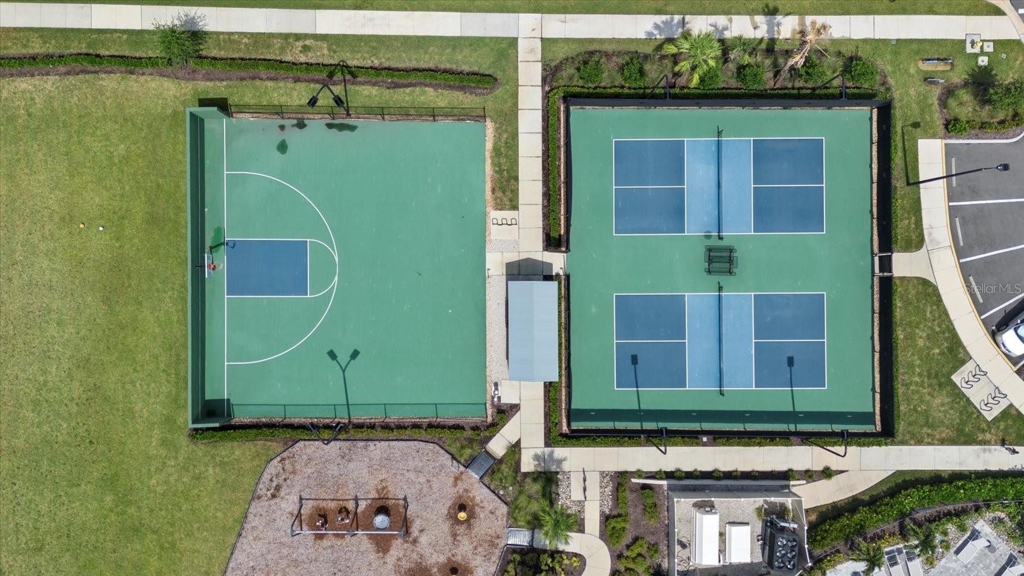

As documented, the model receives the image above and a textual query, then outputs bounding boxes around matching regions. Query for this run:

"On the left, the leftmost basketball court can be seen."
[204,118,486,418]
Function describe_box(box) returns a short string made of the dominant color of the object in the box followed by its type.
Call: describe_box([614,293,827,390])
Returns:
blue sports court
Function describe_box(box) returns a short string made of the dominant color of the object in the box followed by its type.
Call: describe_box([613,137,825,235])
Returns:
blue sports court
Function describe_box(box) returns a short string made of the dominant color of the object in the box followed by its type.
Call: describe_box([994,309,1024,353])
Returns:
white car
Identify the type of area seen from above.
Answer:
sports ground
